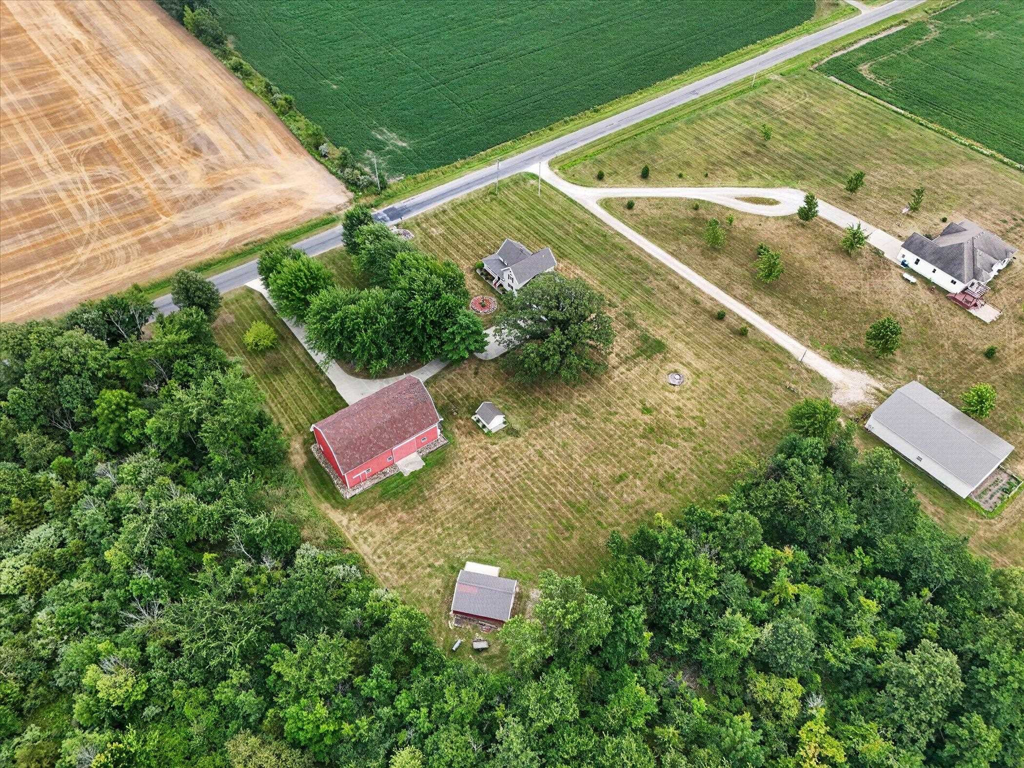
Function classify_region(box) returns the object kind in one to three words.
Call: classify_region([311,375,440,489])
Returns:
barn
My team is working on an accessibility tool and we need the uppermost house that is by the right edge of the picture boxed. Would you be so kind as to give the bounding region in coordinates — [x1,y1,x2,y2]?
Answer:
[894,220,1017,292]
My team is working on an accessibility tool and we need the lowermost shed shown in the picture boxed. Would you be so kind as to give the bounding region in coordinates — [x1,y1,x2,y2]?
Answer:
[452,570,518,625]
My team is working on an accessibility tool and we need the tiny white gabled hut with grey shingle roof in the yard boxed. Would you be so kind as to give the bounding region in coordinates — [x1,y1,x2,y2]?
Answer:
[474,402,506,430]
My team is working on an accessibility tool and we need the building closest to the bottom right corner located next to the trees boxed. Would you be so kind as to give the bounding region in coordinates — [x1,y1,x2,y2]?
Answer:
[860,381,1015,501]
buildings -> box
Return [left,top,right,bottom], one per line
[311,375,440,489]
[452,570,518,625]
[894,220,1017,292]
[484,238,558,296]
[474,402,506,430]
[860,381,1015,501]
